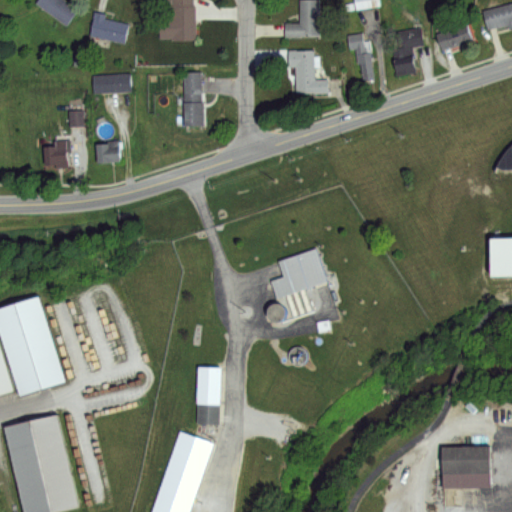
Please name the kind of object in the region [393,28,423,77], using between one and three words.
house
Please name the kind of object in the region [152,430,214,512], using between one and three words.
shed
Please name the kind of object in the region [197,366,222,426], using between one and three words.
building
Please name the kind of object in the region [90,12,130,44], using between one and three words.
house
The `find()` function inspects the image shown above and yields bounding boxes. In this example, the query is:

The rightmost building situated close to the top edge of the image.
[483,3,512,31]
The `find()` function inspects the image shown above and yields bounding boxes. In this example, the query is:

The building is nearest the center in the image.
[271,249,328,298]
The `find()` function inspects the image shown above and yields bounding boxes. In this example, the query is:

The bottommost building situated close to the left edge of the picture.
[4,415,80,512]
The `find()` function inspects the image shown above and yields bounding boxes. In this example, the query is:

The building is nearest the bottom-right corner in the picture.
[440,444,492,488]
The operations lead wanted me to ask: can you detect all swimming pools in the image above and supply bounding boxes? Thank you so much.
[98,123,114,140]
